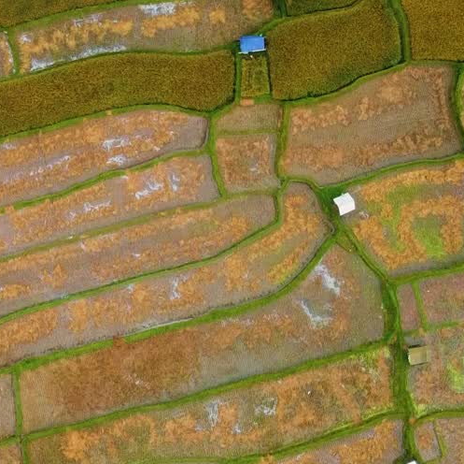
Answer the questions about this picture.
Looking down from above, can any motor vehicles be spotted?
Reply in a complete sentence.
No, there isn't any motor vehicle down there.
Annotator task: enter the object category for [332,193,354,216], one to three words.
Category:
shed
